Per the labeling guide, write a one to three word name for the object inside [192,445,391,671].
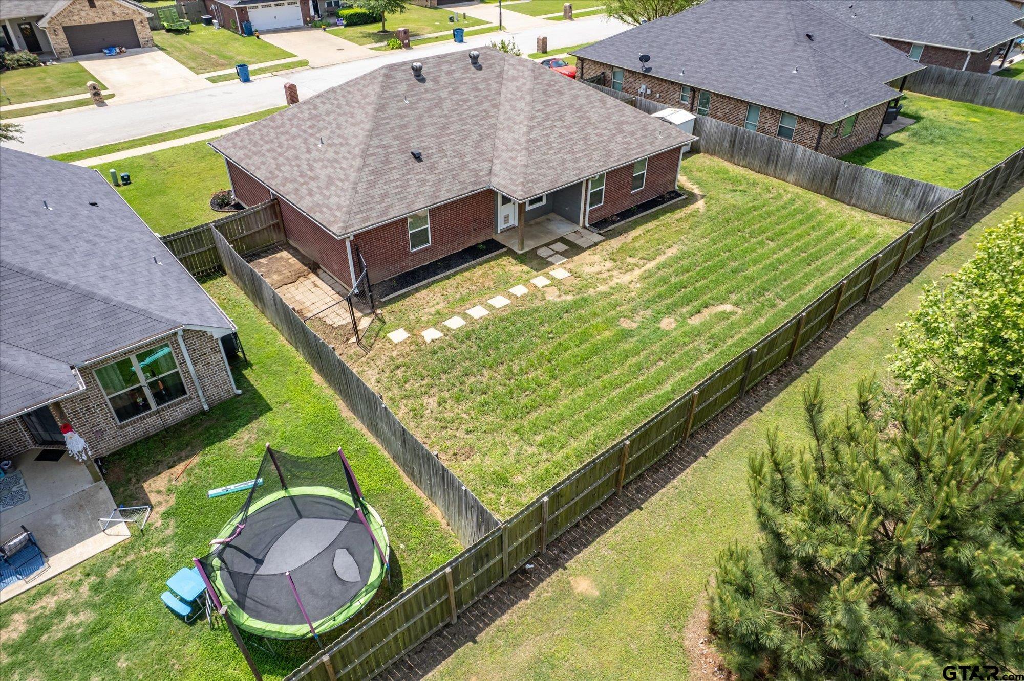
trampoline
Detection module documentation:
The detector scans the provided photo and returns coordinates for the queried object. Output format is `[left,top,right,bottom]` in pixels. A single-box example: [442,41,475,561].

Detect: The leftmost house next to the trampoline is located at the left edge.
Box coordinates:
[0,148,244,600]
